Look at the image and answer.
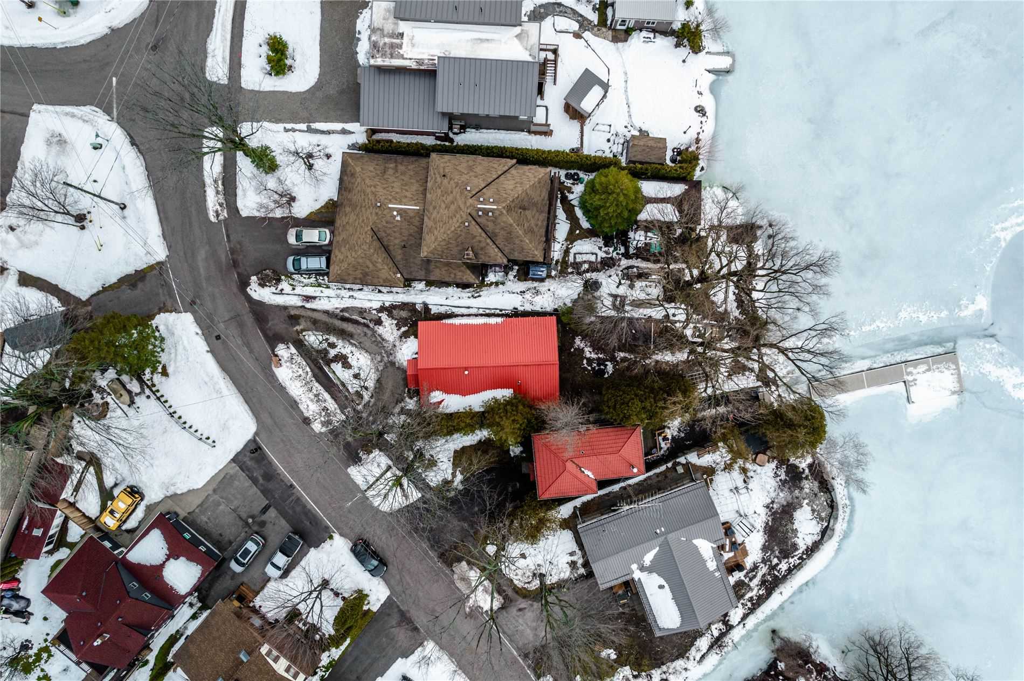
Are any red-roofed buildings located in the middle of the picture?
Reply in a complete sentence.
Yes, there is a red-roofed building in the middle of the picture.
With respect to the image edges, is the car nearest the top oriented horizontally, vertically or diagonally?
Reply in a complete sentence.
In this picture, the car nearest the top is oriented horizontally.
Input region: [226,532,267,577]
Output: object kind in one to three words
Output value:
car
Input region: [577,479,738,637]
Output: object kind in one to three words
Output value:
house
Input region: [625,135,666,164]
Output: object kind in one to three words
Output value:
shed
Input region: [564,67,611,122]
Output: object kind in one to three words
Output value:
building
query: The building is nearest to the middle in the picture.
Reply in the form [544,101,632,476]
[406,316,559,412]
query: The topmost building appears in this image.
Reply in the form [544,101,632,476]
[611,0,676,32]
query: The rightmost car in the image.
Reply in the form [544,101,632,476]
[348,538,386,580]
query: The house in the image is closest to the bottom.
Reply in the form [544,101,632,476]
[158,600,323,681]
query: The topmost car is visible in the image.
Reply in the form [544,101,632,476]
[285,224,333,246]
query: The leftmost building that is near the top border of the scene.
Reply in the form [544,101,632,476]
[360,0,541,135]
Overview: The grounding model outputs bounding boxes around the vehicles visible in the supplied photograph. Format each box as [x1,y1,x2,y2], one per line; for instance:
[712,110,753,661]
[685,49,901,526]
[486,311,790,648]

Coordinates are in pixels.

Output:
[285,224,333,246]
[285,253,331,275]
[226,532,267,577]
[259,529,307,583]
[97,486,138,533]
[348,538,386,580]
